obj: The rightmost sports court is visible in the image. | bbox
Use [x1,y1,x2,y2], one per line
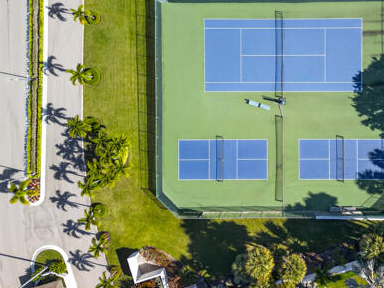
[299,139,384,180]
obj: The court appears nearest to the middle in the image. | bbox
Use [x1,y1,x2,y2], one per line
[178,139,268,180]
